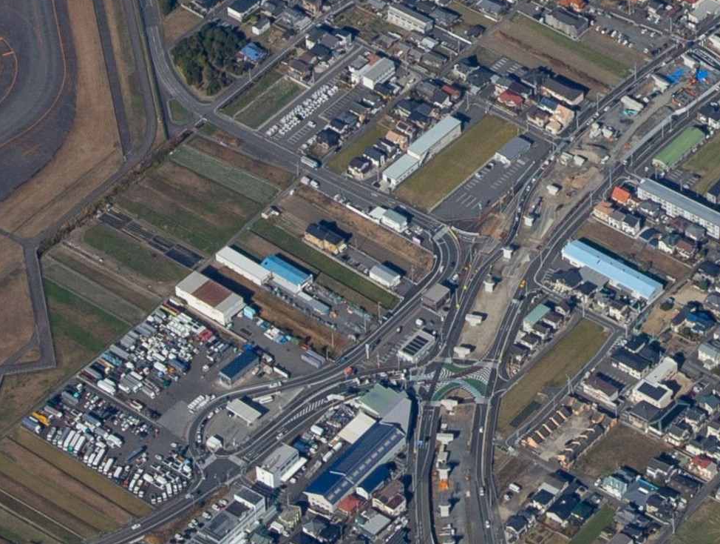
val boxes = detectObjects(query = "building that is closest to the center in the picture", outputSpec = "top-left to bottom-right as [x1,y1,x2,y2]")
[368,262,402,291]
